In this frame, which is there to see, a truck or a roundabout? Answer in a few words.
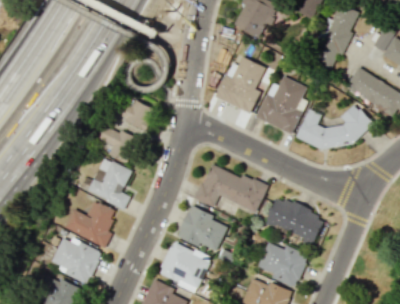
truck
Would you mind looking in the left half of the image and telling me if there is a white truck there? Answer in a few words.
Yes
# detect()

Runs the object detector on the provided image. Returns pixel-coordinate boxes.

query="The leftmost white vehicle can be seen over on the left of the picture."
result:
[28,108,61,146]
